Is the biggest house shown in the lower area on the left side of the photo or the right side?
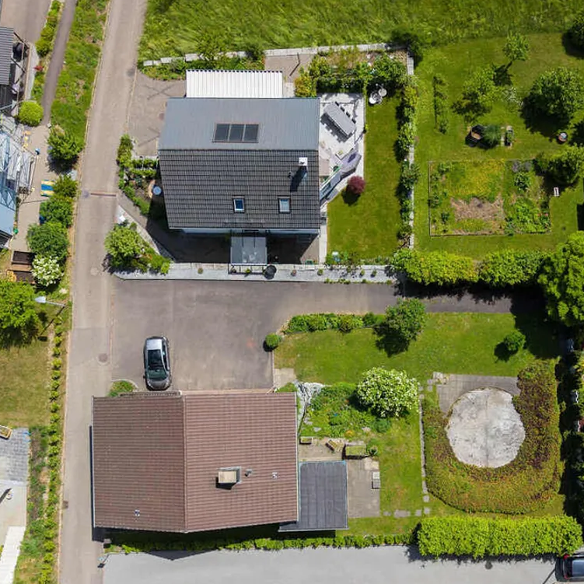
left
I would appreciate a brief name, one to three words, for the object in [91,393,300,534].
house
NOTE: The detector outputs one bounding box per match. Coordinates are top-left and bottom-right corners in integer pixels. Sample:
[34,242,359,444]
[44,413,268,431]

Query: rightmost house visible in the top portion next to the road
[157,96,322,234]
